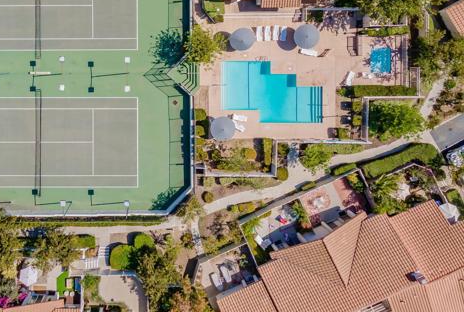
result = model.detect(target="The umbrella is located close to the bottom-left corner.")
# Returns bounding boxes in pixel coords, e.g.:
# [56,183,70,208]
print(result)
[19,264,39,284]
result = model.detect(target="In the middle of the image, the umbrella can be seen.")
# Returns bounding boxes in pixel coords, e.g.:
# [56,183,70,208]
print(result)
[209,115,235,141]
